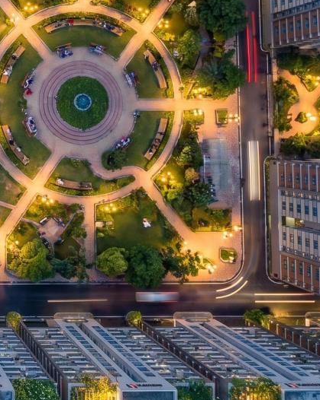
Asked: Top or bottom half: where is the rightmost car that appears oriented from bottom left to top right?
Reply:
bottom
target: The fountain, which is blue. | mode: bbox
[73,93,92,111]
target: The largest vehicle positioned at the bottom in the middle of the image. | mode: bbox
[139,290,174,304]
